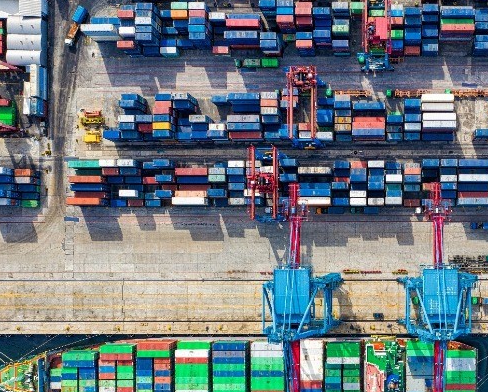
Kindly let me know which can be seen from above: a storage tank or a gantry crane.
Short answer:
gantry crane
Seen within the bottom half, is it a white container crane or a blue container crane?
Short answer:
blue container crane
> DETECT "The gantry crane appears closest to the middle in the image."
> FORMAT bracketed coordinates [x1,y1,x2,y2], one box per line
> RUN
[247,143,292,221]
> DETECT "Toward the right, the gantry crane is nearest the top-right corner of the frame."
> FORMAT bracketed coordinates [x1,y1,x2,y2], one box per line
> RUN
[361,0,397,64]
